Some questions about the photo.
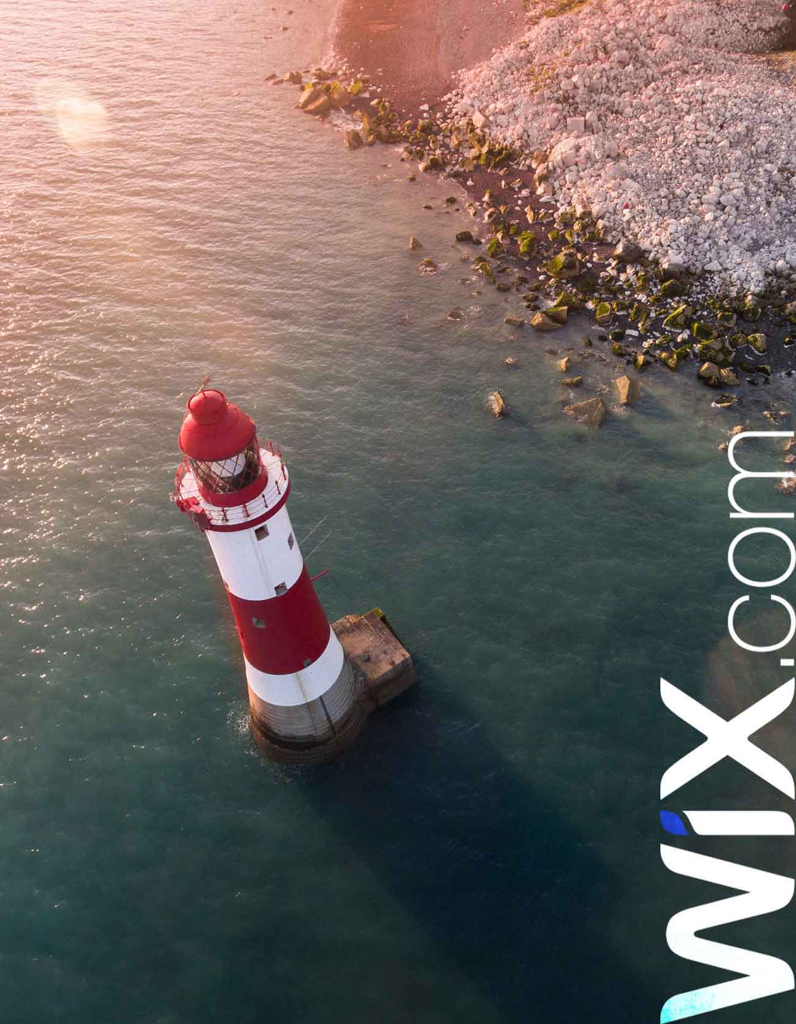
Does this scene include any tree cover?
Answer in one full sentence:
No, the scene doesn't show any tree cover.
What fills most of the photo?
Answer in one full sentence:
The largest share of the image is taken up by water.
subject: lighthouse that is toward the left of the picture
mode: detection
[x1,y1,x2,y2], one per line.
[165,367,368,771]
